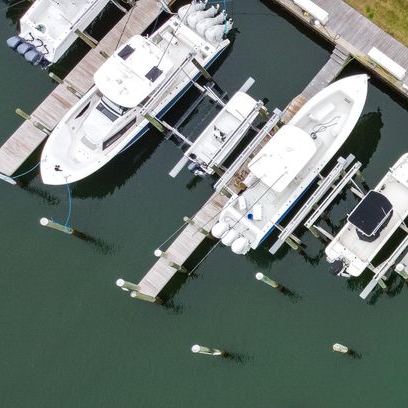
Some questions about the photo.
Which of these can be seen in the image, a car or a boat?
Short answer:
boat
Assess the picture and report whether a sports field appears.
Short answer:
No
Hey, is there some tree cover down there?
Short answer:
No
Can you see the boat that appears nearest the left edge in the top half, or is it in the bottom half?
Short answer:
top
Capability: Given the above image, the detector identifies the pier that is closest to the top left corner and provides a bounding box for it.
[0,0,176,175]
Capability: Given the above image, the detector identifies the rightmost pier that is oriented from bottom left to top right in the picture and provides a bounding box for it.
[117,39,355,302]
